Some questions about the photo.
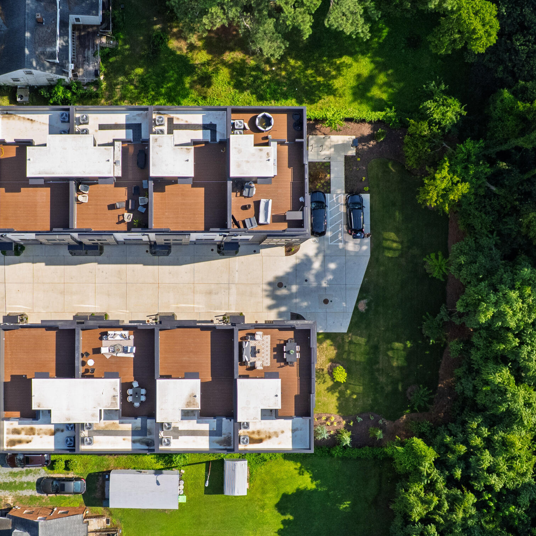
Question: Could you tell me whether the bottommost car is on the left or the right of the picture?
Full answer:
The bottommost car is on the left side of the image.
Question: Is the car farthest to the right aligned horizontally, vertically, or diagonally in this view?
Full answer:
From this overhead view, the car farthest to the right appears to run vertically.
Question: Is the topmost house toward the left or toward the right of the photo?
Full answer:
The topmost house appears in the left half of the scene.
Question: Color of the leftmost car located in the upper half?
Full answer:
From above, the leftmost car located in the upper half appears black.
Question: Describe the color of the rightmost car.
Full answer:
From above, the rightmost car appears black.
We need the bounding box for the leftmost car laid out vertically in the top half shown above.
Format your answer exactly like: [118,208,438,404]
[309,191,330,236]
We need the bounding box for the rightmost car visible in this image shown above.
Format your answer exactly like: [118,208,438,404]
[344,191,366,238]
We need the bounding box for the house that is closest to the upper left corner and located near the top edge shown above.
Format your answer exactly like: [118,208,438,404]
[0,0,113,84]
